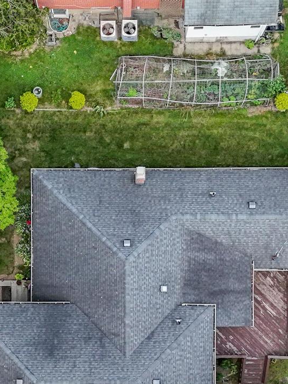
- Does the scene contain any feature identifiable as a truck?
No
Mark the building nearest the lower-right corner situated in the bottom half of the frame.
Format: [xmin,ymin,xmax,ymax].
[0,166,288,384]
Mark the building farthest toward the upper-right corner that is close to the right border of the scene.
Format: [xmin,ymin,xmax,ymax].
[184,0,281,43]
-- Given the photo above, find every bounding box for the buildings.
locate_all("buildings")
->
[34,0,184,18]
[184,0,281,43]
[0,166,288,384]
